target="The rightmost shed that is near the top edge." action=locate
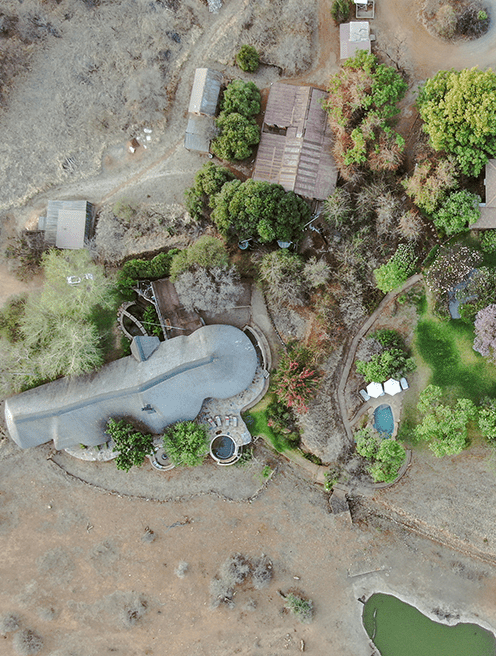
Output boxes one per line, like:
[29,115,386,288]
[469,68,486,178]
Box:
[340,22,375,63]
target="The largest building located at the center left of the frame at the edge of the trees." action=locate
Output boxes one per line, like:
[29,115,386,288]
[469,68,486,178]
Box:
[4,324,257,450]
